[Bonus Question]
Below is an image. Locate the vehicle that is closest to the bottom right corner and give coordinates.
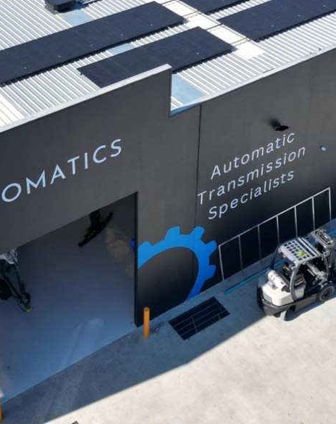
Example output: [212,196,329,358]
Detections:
[255,227,336,325]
